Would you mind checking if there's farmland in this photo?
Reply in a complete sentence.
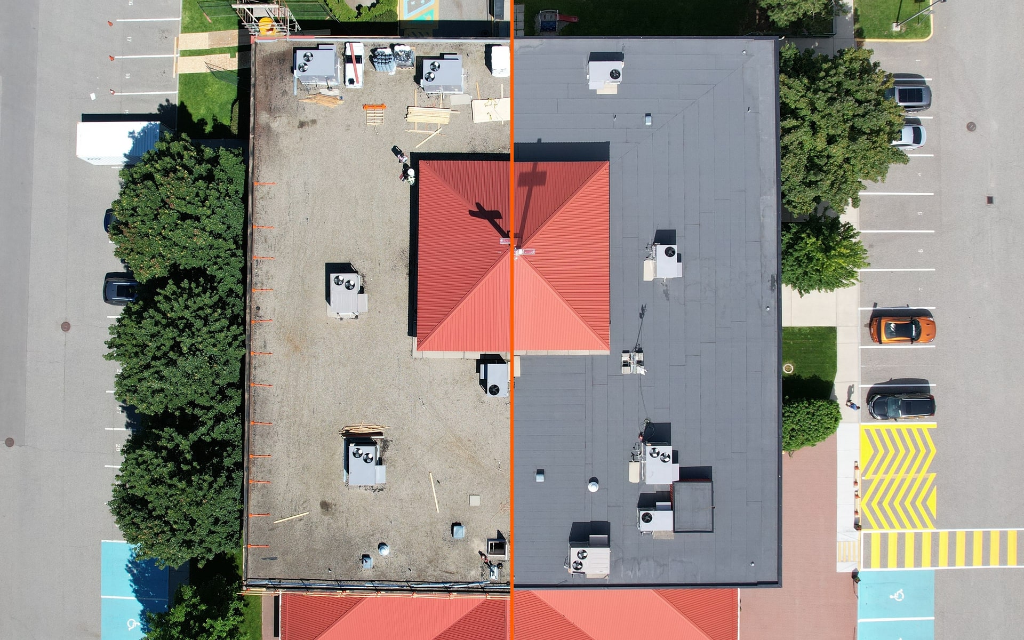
No, the scene doesn't show any farmland.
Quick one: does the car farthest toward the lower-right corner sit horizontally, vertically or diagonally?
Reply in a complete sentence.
I'd say the car farthest toward the lower-right corner is aligned horizontally in the picture.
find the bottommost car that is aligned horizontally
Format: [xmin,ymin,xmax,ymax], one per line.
[870,391,936,423]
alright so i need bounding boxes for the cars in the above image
[104,274,168,303]
[104,209,131,235]
[869,313,936,345]
[879,82,931,115]
[870,391,936,423]
[888,124,927,151]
